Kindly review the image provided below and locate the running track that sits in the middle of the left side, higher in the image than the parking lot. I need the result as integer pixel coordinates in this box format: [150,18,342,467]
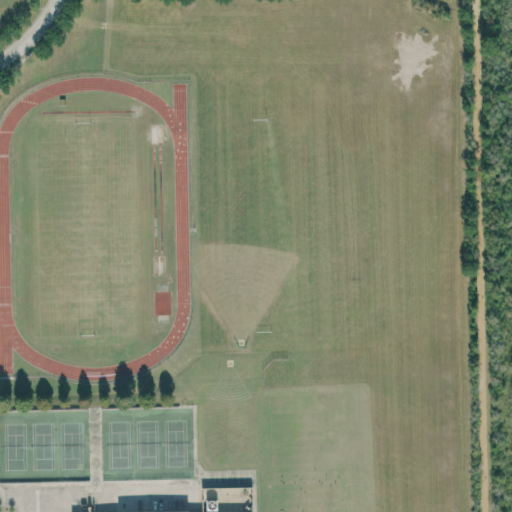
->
[0,77,191,381]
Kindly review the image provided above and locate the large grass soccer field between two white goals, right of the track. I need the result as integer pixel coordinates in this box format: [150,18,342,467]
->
[227,121,299,242]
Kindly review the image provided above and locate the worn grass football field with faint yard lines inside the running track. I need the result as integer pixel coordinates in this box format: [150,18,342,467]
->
[37,121,135,337]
